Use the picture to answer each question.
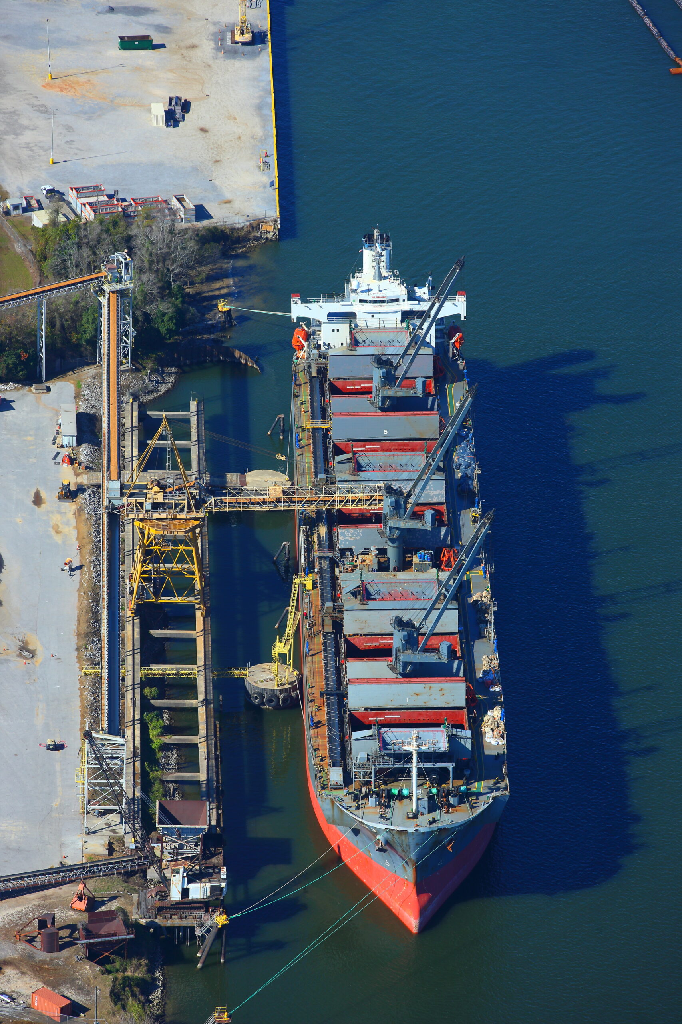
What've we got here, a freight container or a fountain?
freight container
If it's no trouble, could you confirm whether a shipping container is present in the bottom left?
Yes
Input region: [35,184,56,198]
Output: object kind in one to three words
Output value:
vehicle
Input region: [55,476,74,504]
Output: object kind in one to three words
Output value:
work vehicle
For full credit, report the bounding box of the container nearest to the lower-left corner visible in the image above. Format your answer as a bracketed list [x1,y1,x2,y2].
[31,985,72,1022]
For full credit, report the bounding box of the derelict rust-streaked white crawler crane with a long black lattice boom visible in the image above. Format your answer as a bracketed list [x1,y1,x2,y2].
[81,722,229,916]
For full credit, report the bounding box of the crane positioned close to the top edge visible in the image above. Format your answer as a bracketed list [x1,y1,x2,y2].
[230,0,253,45]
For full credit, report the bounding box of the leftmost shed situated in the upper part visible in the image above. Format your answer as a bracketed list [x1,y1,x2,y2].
[5,194,24,215]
